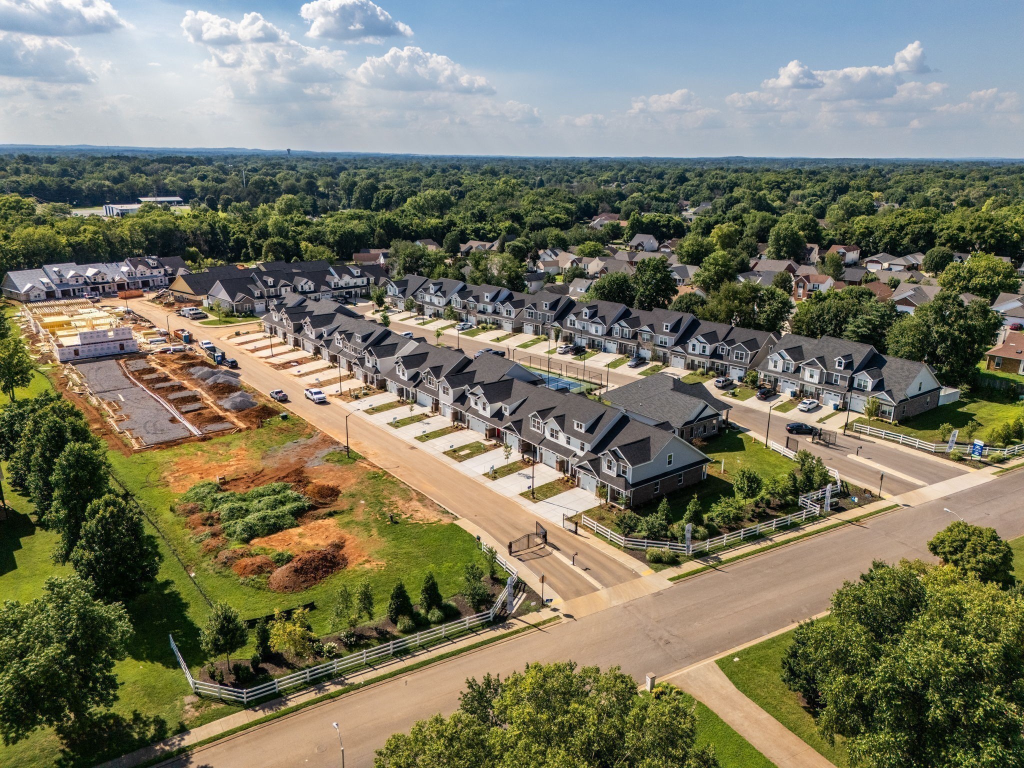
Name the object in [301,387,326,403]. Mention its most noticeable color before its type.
white vehicle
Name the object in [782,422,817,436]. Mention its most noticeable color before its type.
black car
